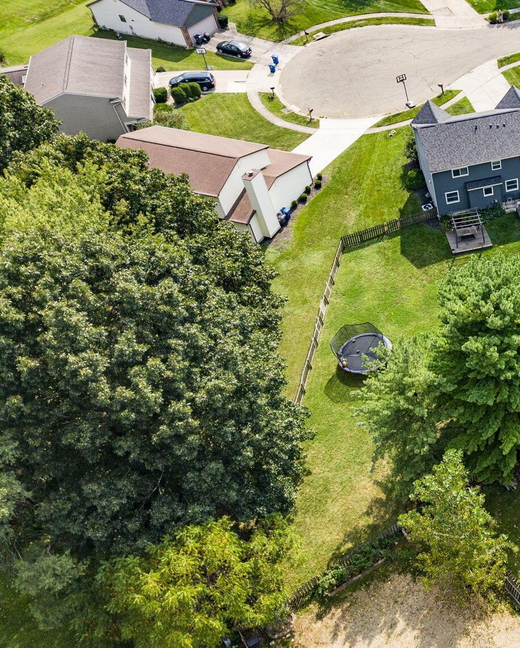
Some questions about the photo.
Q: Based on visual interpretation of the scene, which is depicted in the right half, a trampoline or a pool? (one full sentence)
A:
What appears in the right half is a trampoline.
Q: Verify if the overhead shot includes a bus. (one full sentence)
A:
No, there is no bus in the image.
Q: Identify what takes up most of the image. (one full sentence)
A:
The largest share of the image is taken up by trees.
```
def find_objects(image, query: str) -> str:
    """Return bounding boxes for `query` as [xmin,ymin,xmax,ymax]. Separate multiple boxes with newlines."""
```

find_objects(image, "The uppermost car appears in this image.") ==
[212,39,252,58]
